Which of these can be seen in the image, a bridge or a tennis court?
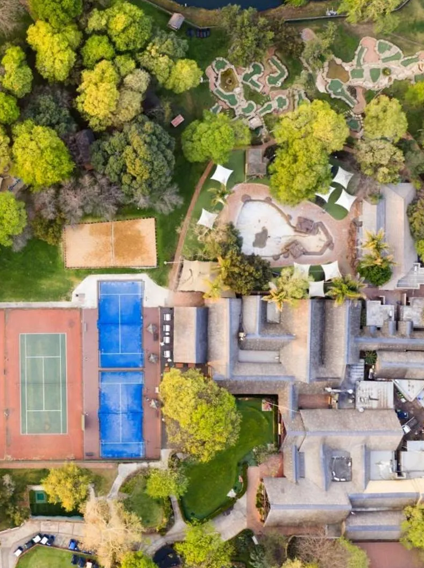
tennis court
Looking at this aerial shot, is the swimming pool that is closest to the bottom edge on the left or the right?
right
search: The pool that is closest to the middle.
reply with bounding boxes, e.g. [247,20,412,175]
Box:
[234,197,332,257]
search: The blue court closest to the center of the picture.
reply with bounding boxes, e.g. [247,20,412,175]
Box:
[99,280,148,369]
